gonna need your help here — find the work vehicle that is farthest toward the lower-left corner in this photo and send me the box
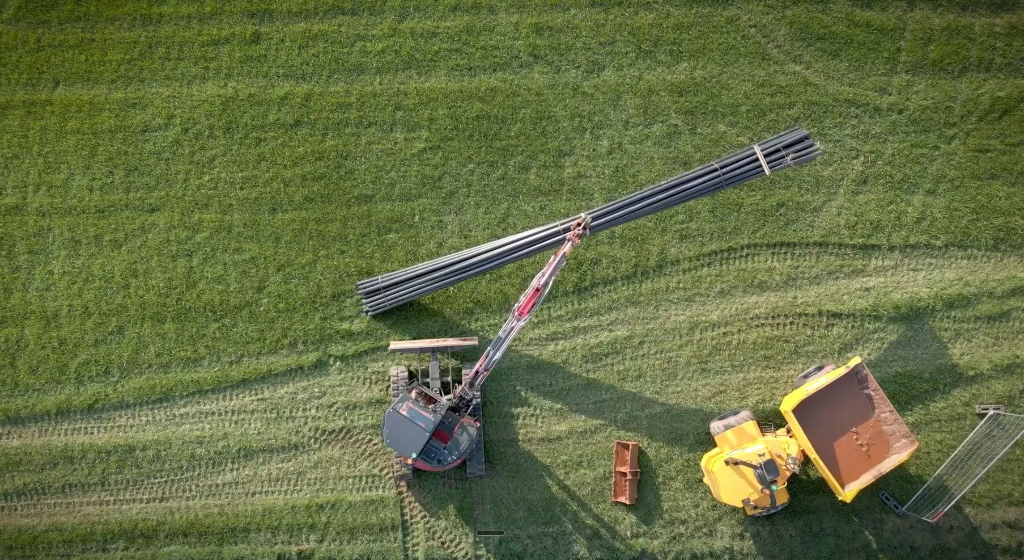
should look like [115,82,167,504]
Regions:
[382,209,593,481]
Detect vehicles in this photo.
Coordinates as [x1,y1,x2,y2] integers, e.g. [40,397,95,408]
[698,356,918,514]
[382,209,593,481]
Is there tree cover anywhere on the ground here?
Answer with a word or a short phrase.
No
